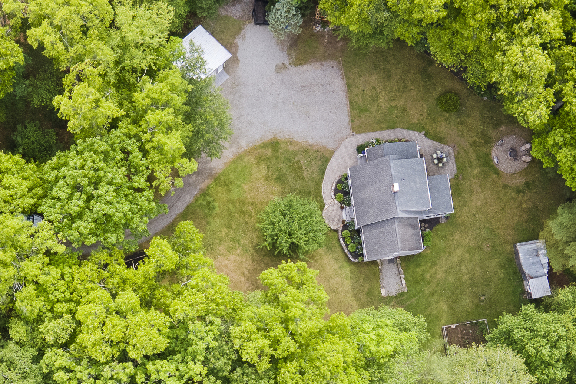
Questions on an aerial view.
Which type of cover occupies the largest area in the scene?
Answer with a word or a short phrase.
trees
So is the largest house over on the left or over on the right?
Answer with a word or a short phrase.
right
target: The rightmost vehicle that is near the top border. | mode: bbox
[255,0,270,28]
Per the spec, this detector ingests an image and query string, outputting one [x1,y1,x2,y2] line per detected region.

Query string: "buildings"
[514,239,555,298]
[173,26,235,93]
[347,141,454,262]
